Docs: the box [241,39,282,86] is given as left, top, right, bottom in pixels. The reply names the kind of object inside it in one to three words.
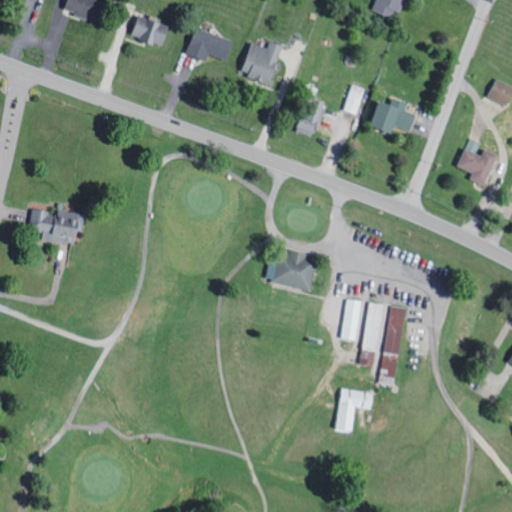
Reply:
house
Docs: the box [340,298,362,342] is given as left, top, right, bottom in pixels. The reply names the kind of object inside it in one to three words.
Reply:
barn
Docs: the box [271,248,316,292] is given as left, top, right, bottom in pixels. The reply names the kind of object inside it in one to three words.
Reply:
building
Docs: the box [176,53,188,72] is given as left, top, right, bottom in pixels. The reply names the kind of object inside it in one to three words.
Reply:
vehicle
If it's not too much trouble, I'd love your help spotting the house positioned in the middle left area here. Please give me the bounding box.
[30,208,84,246]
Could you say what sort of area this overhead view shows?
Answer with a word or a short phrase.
golf course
